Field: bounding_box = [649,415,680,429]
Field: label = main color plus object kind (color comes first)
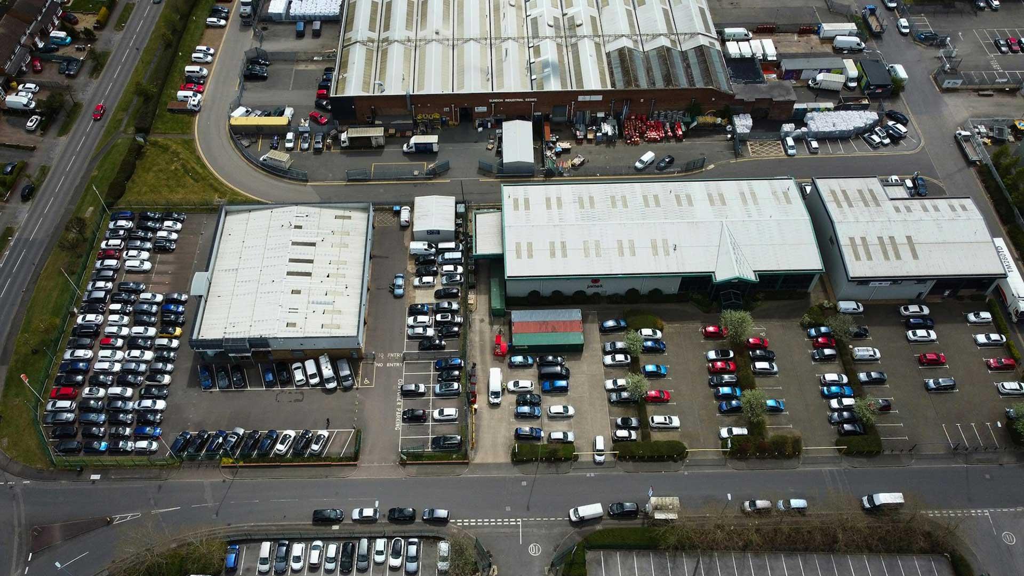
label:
white car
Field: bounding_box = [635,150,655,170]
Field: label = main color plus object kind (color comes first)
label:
white vehicle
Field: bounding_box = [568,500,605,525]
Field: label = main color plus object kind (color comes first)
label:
white vehicle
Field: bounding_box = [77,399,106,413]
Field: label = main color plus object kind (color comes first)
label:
black car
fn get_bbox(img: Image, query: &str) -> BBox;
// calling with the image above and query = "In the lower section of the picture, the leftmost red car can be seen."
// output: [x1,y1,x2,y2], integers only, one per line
[51,386,79,400]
